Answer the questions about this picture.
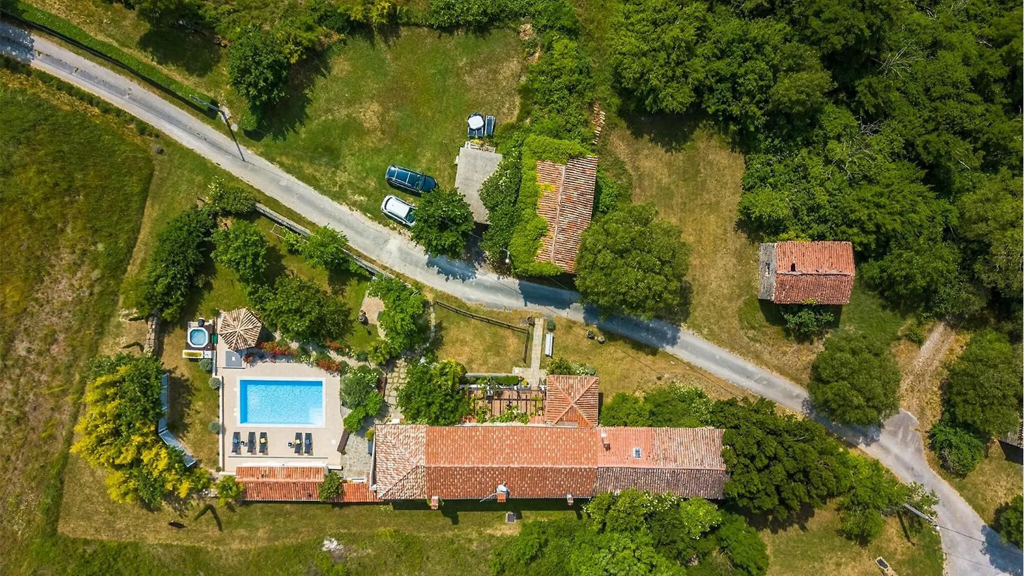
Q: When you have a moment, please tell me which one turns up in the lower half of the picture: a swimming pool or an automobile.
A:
swimming pool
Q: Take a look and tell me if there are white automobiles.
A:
Yes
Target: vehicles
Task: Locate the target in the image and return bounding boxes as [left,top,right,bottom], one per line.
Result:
[380,197,422,230]
[384,165,438,194]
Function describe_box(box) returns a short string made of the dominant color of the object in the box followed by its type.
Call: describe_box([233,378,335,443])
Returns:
blue swimming pool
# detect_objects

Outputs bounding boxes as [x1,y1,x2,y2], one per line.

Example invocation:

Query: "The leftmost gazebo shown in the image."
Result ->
[218,307,263,351]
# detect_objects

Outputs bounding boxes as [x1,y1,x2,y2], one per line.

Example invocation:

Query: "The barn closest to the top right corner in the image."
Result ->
[760,241,857,306]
